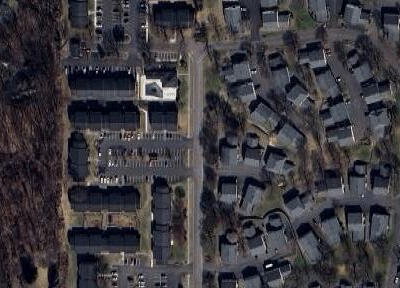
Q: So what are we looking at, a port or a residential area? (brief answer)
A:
residential area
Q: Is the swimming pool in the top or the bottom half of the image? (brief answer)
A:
top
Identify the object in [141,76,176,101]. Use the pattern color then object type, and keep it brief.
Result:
white swimming pool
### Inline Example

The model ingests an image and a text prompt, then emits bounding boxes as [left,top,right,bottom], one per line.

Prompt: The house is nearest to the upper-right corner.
[382,15,400,43]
